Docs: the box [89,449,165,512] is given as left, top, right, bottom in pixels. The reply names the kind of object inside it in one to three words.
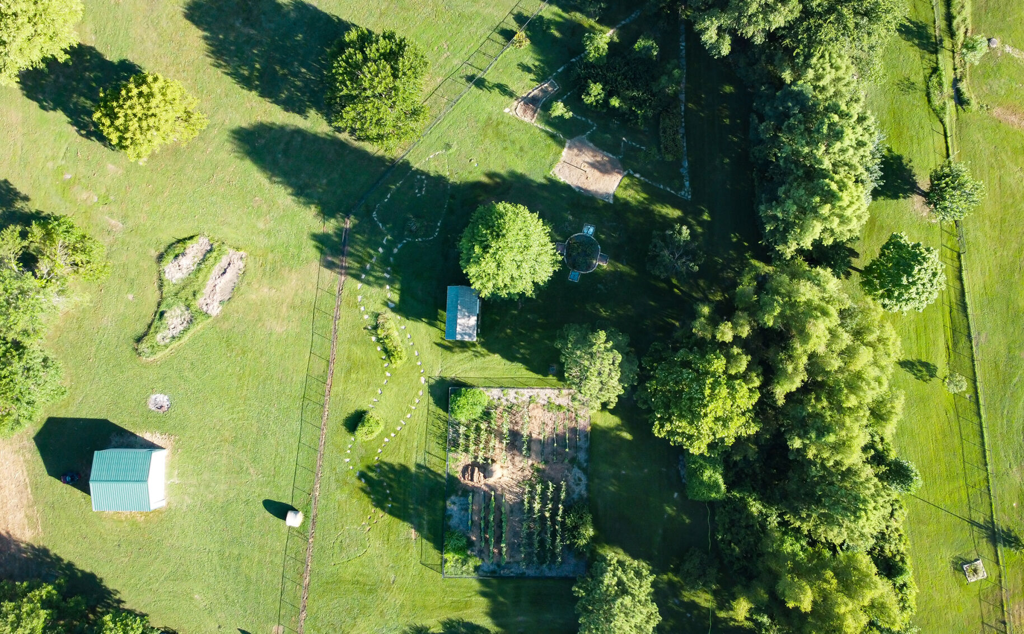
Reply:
shed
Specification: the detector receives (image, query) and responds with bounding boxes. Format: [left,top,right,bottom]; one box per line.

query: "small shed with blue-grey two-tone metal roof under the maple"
[445,285,484,340]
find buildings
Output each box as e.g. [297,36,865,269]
[445,285,484,340]
[89,449,165,512]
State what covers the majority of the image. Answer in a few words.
grass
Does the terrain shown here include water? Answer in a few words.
No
